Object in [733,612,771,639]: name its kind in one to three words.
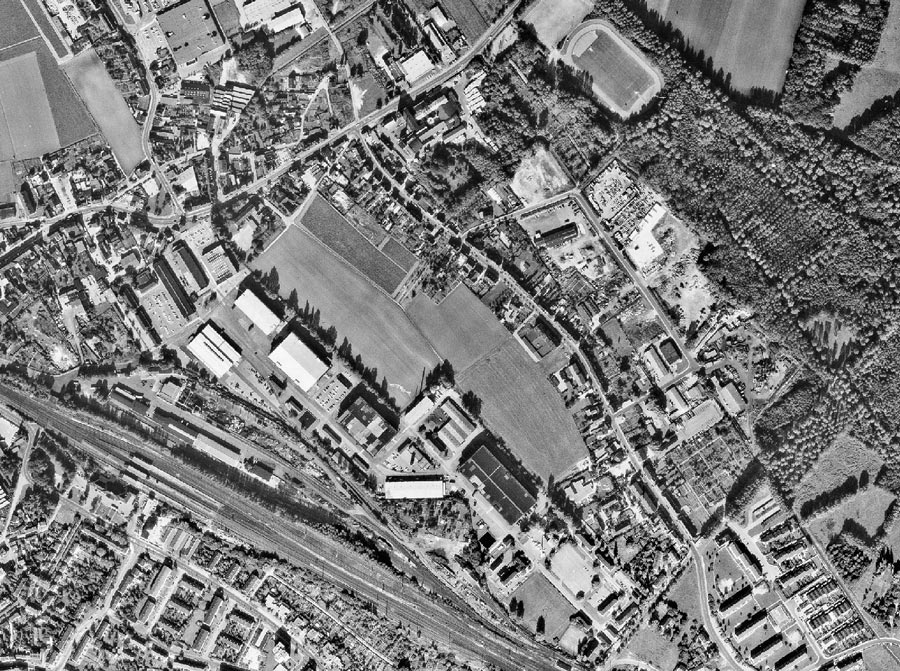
building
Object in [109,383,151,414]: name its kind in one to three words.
shed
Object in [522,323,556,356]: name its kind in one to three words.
greenhouse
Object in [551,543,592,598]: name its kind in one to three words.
sports field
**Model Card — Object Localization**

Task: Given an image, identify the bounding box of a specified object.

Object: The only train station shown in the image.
[80,443,212,516]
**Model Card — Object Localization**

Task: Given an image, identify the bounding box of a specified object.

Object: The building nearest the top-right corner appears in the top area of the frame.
[644,203,667,233]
